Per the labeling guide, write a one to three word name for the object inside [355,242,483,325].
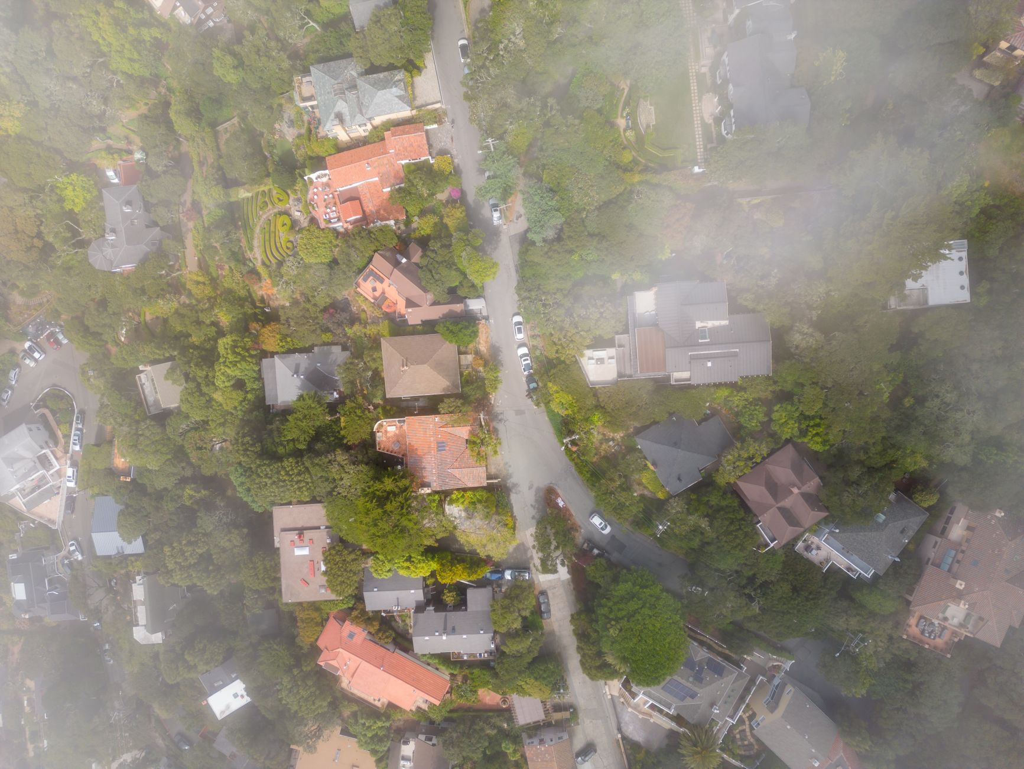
house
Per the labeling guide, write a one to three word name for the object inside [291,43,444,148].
house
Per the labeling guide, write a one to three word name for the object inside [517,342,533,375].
car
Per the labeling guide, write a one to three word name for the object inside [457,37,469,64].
vehicle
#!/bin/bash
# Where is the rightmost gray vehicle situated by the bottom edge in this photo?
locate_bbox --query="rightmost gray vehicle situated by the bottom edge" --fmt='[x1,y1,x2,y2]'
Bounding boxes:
[573,744,600,768]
